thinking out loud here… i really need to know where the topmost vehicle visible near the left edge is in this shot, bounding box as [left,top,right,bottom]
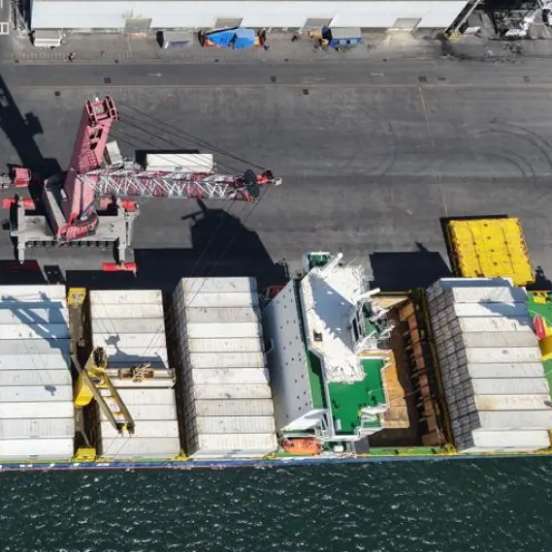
[27,27,60,47]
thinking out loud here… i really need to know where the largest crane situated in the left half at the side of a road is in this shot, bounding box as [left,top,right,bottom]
[10,97,286,377]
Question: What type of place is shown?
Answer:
port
